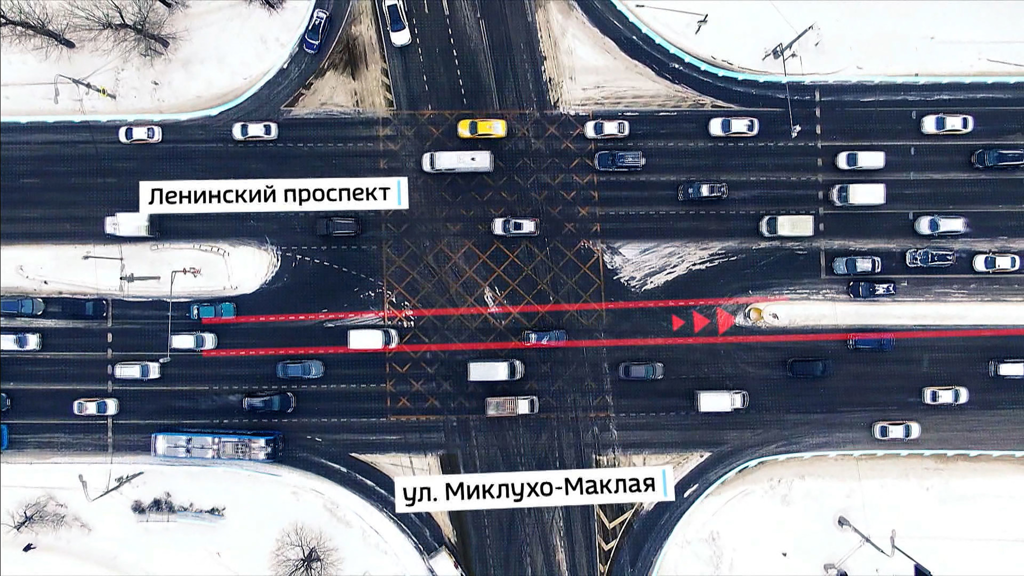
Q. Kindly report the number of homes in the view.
zero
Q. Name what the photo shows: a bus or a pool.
bus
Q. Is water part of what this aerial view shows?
No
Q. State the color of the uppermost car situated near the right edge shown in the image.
white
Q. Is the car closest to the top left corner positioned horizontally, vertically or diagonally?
horizontally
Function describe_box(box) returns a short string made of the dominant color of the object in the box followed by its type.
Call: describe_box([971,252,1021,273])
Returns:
white car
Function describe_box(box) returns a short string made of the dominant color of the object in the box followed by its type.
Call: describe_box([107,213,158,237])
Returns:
white truck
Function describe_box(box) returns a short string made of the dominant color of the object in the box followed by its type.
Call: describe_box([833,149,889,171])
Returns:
white vehicle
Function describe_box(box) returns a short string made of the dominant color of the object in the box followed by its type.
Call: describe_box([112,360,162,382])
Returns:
white car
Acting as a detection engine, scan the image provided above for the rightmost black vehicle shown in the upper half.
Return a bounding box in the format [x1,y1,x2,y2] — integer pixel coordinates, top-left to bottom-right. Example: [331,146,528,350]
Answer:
[968,148,1024,170]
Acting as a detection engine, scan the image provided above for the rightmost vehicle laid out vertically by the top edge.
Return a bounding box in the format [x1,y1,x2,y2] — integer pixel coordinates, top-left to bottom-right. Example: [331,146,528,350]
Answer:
[383,0,410,49]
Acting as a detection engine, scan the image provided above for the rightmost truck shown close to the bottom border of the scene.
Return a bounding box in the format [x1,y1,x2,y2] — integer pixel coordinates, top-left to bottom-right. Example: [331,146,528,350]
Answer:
[433,539,477,576]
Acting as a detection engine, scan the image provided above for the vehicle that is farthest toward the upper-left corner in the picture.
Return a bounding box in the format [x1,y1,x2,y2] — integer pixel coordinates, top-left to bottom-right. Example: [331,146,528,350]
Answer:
[118,123,164,145]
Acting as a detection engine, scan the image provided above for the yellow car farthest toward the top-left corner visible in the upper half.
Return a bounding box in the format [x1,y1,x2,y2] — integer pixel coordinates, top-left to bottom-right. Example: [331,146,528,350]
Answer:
[457,117,507,139]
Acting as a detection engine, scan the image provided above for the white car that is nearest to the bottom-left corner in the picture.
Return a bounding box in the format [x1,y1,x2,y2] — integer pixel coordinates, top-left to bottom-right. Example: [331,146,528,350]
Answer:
[71,397,121,418]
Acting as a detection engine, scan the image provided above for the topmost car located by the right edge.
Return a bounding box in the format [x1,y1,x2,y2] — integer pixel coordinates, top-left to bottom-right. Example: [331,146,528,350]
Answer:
[919,113,974,134]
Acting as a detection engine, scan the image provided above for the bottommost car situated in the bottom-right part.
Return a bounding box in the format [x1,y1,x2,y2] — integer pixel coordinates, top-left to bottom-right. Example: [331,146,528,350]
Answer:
[870,420,920,441]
